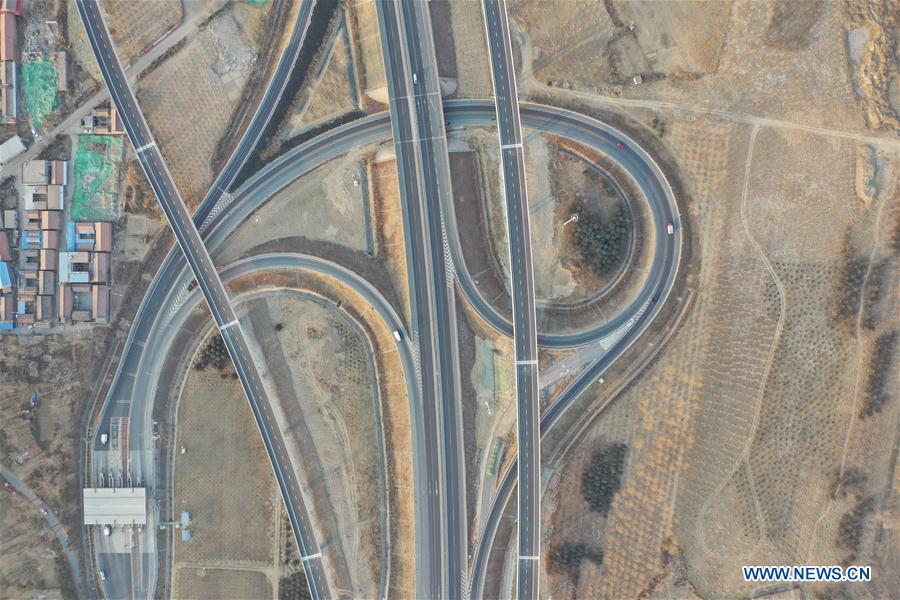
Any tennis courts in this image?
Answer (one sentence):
No, no tennis court can be seen from above.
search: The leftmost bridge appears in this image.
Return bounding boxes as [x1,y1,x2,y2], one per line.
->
[74,0,334,600]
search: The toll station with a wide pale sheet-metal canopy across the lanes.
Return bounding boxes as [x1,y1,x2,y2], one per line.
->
[83,469,147,532]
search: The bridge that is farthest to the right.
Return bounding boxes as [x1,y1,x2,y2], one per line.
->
[482,0,541,600]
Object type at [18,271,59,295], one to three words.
house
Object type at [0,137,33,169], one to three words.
building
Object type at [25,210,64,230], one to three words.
house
